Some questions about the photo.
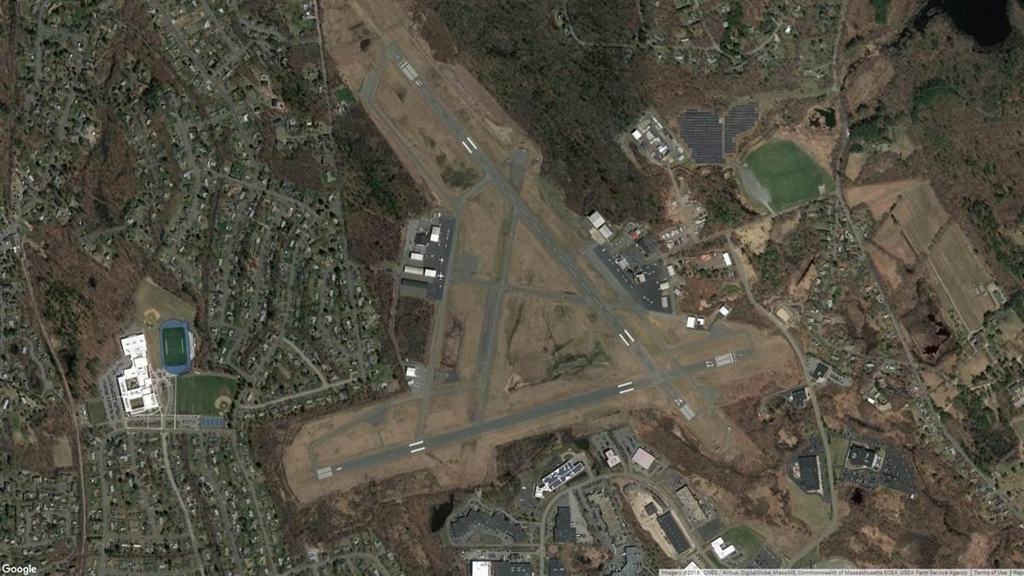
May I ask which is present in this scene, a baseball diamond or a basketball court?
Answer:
baseball diamond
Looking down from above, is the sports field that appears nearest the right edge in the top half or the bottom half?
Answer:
top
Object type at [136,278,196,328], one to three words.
baseball field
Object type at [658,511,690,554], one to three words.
building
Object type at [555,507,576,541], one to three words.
building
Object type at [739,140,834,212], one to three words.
sports field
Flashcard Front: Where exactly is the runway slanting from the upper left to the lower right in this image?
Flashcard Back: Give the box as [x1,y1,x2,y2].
[385,41,698,423]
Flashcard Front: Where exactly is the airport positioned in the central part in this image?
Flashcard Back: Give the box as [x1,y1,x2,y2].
[307,41,755,480]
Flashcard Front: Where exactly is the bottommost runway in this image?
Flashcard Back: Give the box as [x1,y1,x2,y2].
[313,346,755,480]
